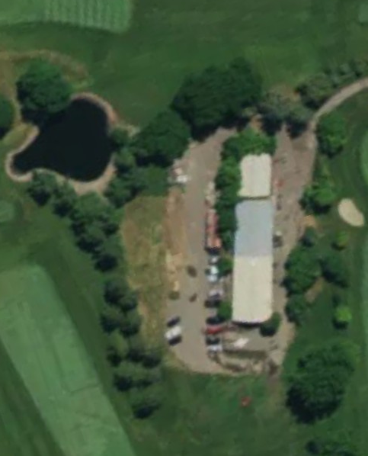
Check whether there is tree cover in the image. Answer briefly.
Yes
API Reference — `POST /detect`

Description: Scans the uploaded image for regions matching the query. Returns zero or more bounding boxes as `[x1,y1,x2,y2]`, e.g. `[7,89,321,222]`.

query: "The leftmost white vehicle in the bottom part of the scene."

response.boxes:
[164,325,181,338]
